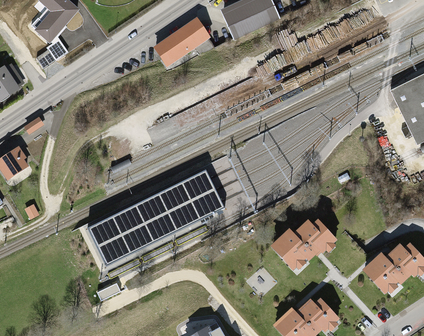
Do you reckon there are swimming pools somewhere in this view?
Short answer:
No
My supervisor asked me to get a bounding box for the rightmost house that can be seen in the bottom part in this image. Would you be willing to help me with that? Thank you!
[364,242,424,300]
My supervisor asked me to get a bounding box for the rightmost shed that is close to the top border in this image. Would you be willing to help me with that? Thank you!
[222,0,280,39]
